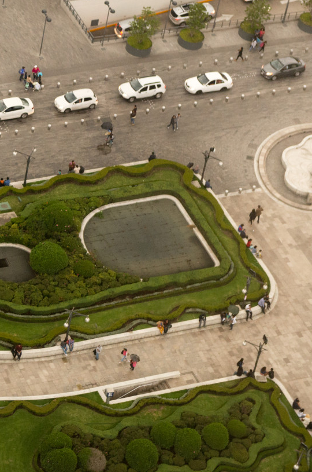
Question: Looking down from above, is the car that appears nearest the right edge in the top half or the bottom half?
top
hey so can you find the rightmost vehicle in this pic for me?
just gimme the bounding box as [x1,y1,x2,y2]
[256,56,311,81]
